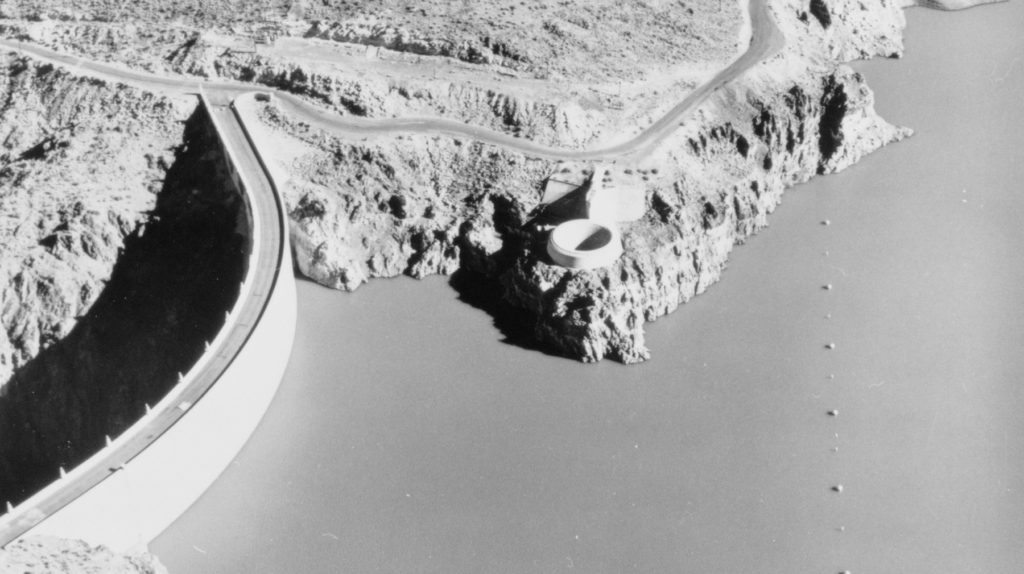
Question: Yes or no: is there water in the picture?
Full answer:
Yes, water shows up in the scene.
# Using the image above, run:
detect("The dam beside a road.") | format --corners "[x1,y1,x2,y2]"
[0,95,298,566]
